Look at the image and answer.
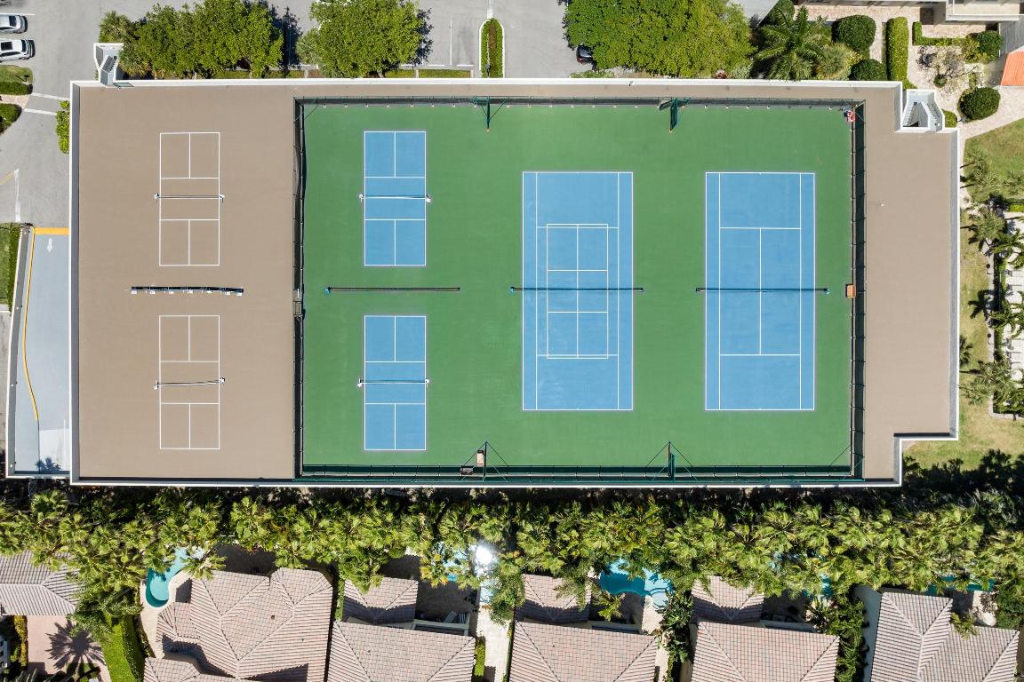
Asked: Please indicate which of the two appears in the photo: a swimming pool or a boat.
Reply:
swimming pool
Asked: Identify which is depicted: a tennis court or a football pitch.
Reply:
tennis court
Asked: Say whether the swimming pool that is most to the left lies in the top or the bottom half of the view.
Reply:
bottom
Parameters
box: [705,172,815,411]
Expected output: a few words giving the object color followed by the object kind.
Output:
blue tennis court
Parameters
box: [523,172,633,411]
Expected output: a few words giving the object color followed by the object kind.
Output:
blue tennis court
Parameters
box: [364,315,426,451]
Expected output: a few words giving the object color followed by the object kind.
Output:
blue sports court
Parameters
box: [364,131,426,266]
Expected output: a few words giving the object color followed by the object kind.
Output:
blue sports court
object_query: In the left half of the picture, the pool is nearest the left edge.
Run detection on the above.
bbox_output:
[143,537,195,609]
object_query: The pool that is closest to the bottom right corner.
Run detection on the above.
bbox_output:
[925,567,996,601]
